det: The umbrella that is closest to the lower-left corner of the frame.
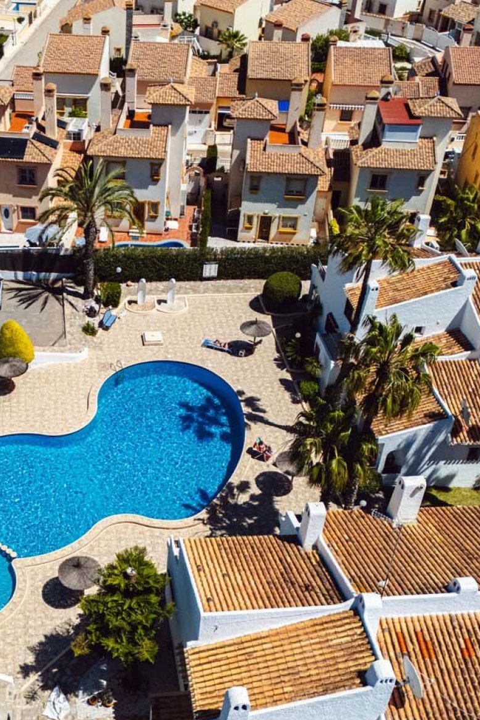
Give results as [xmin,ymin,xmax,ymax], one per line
[57,558,100,599]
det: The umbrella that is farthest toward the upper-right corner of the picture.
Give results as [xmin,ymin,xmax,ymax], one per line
[239,320,272,354]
